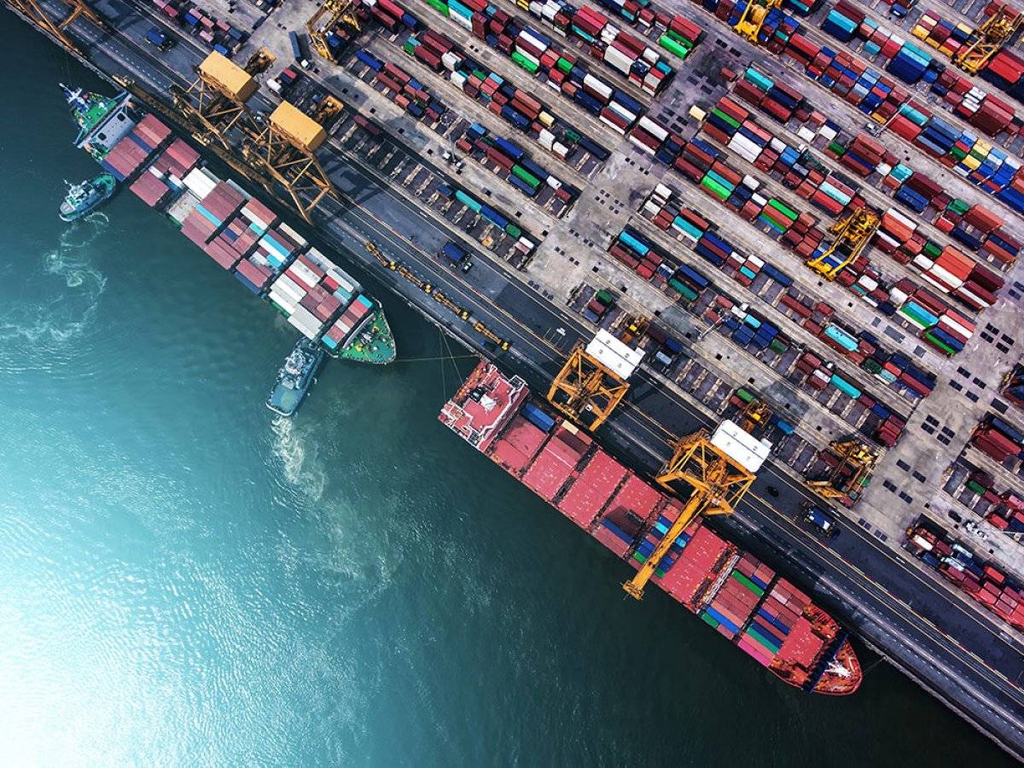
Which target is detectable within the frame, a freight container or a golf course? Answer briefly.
freight container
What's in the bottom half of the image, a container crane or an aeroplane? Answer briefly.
container crane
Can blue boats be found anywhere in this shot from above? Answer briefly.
Yes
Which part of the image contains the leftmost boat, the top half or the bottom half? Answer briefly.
top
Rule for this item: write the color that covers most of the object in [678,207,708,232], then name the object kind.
red shipping container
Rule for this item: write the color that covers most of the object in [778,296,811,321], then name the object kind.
red shipping container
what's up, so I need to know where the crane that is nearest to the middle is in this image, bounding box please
[540,314,650,435]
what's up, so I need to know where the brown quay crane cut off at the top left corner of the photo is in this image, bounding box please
[16,0,106,53]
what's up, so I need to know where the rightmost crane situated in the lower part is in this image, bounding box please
[805,439,881,502]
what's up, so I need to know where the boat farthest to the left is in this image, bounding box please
[55,175,118,229]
